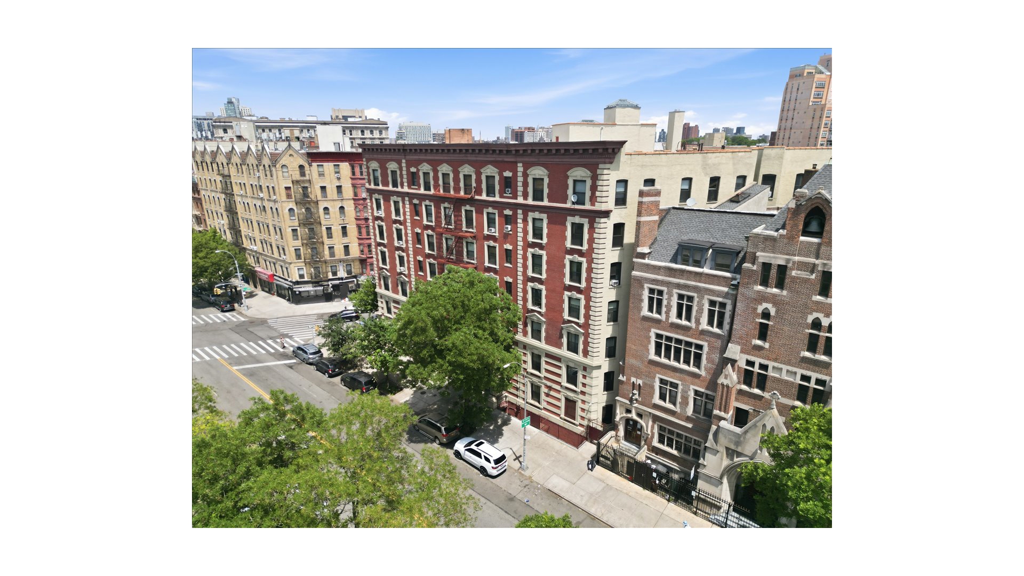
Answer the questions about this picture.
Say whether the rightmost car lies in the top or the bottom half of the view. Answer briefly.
bottom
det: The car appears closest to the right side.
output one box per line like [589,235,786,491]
[451,435,510,477]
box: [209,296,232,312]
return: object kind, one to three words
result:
car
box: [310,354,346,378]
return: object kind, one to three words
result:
car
